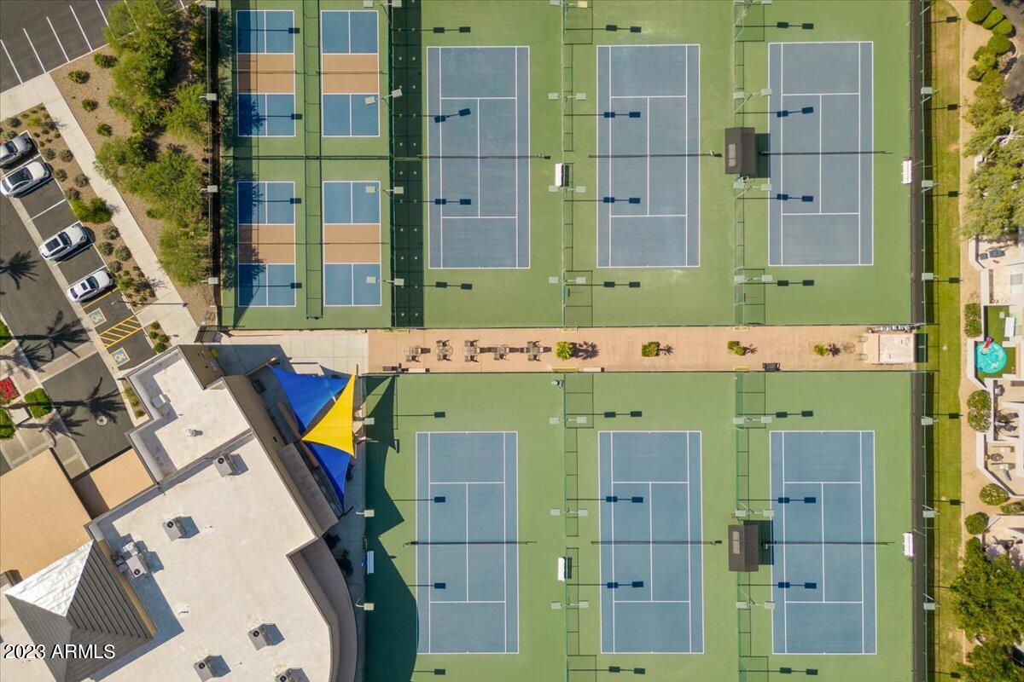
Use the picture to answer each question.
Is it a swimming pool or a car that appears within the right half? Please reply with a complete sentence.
You can see a swimming pool within the right half.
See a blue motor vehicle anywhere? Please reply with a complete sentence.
No, the scene contains no blue motor vehicle.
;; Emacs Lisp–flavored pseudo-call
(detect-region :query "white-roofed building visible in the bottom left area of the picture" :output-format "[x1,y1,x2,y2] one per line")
[0,345,358,682]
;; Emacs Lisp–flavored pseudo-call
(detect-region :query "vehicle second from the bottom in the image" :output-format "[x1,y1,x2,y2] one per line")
[39,227,86,259]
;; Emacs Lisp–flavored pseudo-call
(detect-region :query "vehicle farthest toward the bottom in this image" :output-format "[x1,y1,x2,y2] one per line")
[67,270,113,302]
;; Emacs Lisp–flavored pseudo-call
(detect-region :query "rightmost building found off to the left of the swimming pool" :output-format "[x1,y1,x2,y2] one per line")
[866,334,914,364]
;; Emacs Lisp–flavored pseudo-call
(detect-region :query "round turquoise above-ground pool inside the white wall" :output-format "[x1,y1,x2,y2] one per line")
[976,343,1009,374]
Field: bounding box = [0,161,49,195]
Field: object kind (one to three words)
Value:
car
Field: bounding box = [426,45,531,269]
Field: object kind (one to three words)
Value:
tennis court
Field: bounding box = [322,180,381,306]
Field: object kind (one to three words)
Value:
sports court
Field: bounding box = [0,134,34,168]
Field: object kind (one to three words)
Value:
car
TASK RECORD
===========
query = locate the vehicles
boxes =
[67,270,113,302]
[39,227,86,259]
[0,161,49,195]
[0,134,34,168]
